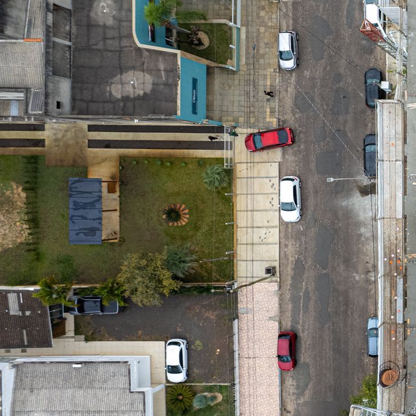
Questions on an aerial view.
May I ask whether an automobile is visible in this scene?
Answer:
Yes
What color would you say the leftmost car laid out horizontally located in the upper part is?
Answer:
red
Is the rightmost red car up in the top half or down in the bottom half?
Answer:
bottom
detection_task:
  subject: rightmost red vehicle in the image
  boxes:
[272,331,296,373]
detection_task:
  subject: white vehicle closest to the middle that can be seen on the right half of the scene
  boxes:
[275,176,299,223]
